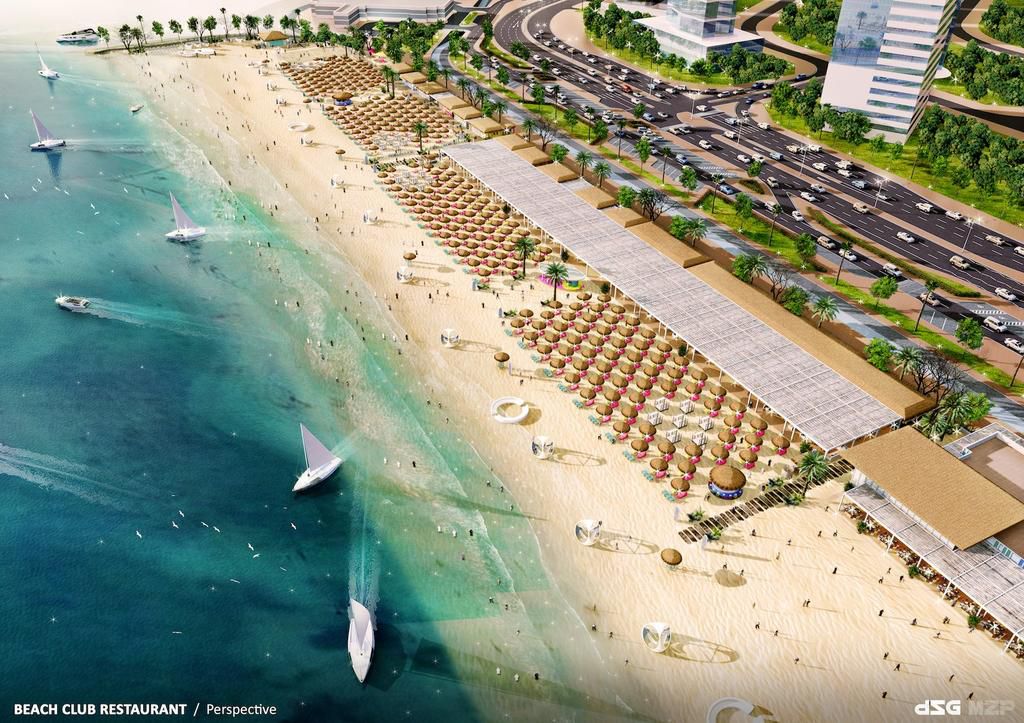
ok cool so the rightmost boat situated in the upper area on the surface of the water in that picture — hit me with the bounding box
[165,199,206,238]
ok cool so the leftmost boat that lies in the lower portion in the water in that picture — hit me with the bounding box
[292,429,344,491]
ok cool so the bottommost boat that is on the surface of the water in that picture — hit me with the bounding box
[351,602,379,681]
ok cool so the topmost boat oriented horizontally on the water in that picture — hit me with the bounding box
[55,28,98,41]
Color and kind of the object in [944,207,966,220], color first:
white vehicle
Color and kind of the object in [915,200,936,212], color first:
white vehicle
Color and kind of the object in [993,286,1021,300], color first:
white car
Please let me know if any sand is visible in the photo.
Yes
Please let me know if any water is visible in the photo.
Yes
